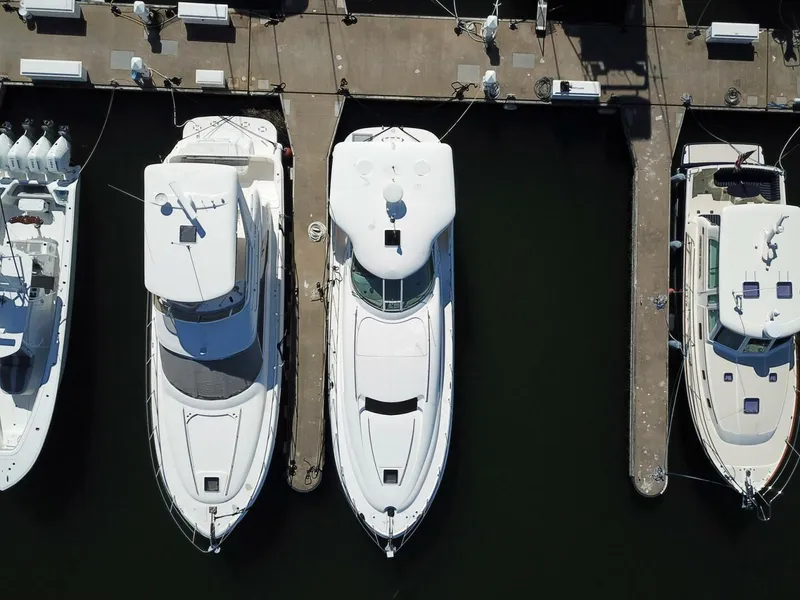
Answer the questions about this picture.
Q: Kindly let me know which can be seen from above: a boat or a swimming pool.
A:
boat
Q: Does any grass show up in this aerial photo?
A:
No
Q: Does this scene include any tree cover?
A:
No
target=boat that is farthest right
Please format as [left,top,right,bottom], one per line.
[676,143,800,530]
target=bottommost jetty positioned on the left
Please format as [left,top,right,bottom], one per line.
[279,91,348,492]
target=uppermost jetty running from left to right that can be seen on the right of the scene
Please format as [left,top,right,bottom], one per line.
[617,0,690,27]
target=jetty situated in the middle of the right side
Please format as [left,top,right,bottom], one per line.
[616,102,688,495]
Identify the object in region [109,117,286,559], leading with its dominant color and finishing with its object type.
white boat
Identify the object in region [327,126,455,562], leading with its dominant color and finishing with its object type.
white boat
